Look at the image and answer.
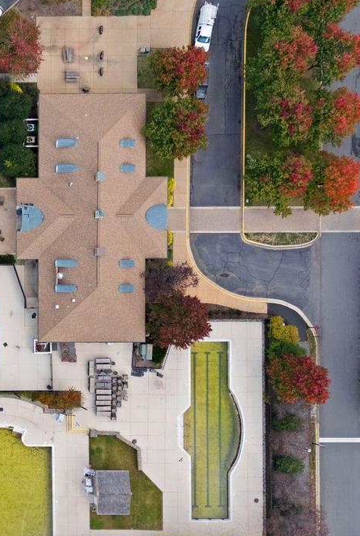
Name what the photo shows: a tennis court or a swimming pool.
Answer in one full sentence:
I can see a swimming pool in this picture.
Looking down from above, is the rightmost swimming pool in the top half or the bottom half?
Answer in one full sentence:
The rightmost swimming pool sits in the bottom half of the picture.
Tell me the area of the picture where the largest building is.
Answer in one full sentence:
The largest building appears toward the left of the photo.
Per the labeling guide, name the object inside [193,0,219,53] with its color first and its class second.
white truck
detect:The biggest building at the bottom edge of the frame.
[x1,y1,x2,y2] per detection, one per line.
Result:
[87,469,132,514]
